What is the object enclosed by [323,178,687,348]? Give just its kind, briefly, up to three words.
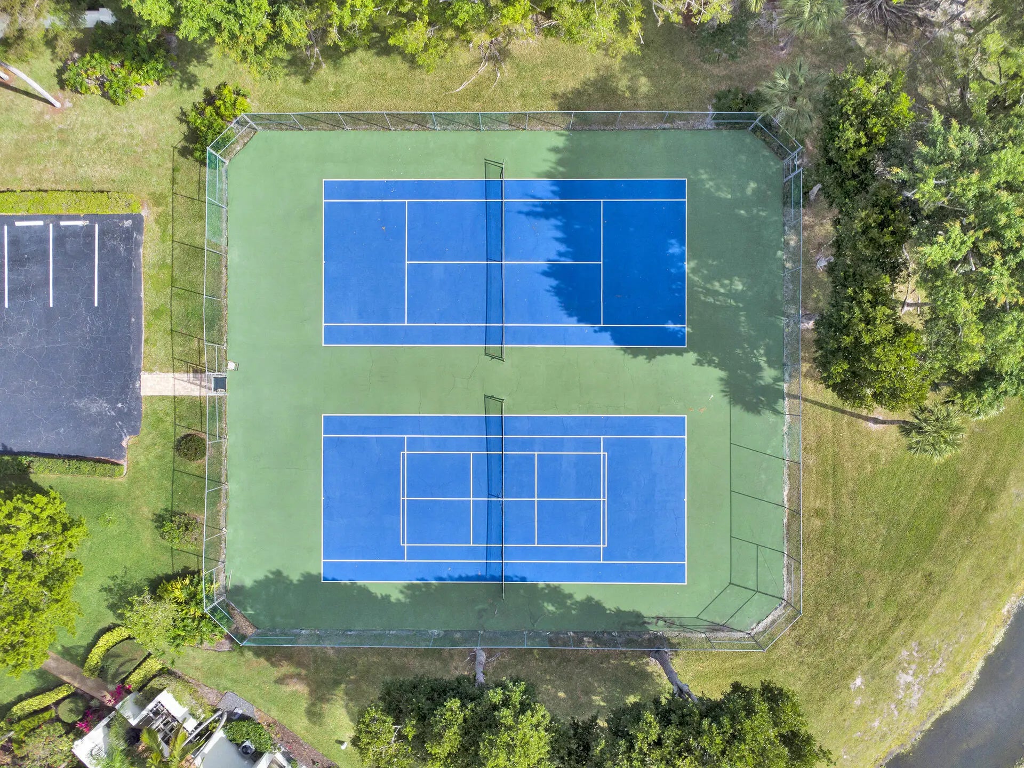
tennis court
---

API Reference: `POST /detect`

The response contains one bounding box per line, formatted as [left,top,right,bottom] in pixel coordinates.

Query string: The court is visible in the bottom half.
[321,414,687,585]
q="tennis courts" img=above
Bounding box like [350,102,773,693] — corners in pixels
[321,414,687,585]
[323,178,687,348]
